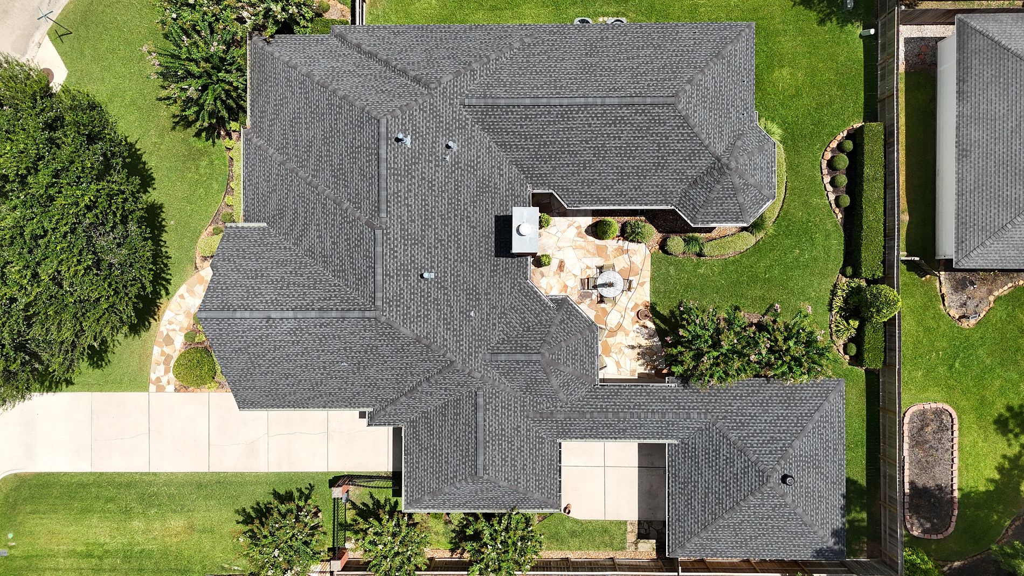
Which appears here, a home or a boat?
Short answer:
home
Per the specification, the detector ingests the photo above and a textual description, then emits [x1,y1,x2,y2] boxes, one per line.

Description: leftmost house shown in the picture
[199,22,845,559]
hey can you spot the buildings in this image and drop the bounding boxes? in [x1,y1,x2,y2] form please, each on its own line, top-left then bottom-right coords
[199,22,845,559]
[936,12,1024,270]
